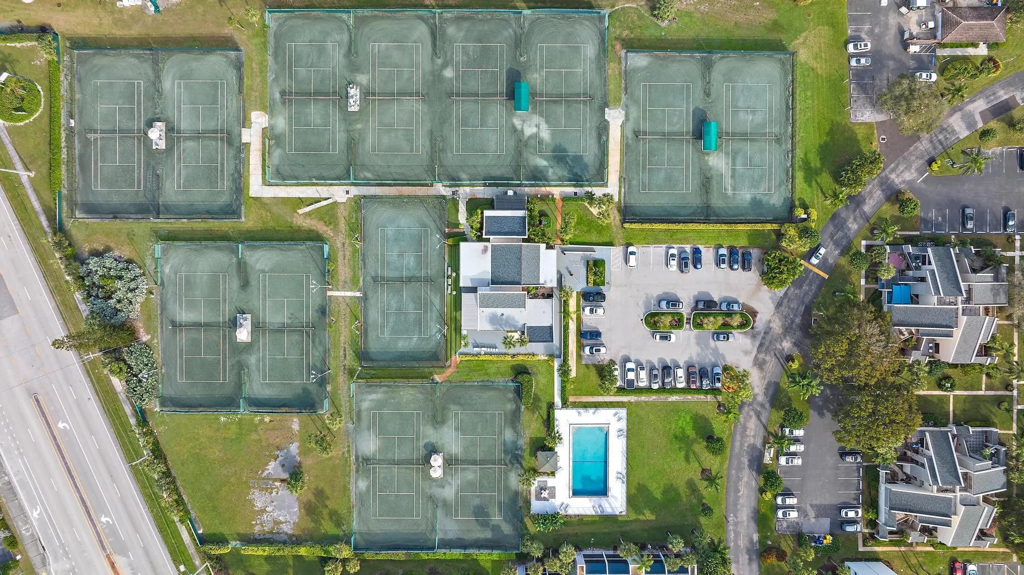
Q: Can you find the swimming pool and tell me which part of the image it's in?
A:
bottom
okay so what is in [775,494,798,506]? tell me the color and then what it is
white vehicle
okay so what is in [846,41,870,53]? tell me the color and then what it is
white vehicle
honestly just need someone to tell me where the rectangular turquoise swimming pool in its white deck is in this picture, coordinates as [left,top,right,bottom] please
[531,408,627,515]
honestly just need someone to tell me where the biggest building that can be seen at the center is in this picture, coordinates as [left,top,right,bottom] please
[460,195,557,343]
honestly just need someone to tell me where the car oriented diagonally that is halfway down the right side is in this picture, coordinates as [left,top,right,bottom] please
[808,244,827,266]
